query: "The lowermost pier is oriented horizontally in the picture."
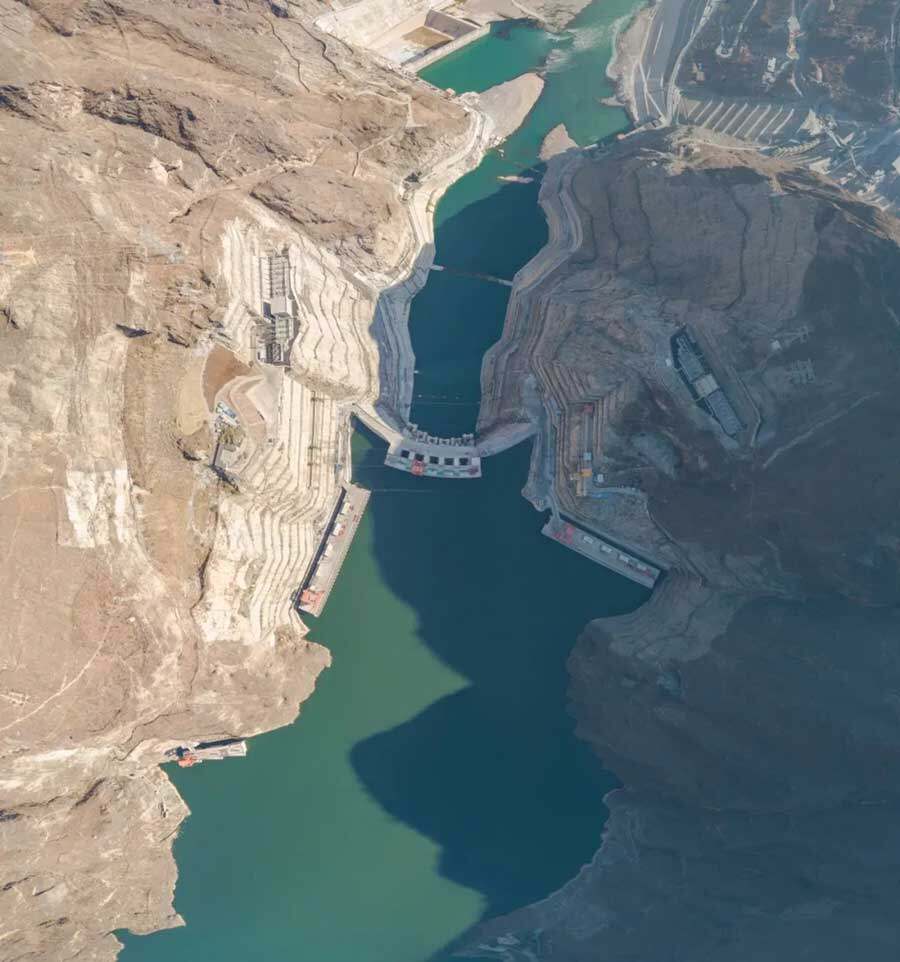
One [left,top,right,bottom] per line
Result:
[185,742,246,763]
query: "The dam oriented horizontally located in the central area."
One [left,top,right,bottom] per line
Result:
[350,404,540,479]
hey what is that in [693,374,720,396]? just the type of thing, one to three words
building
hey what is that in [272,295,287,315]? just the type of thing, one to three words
building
